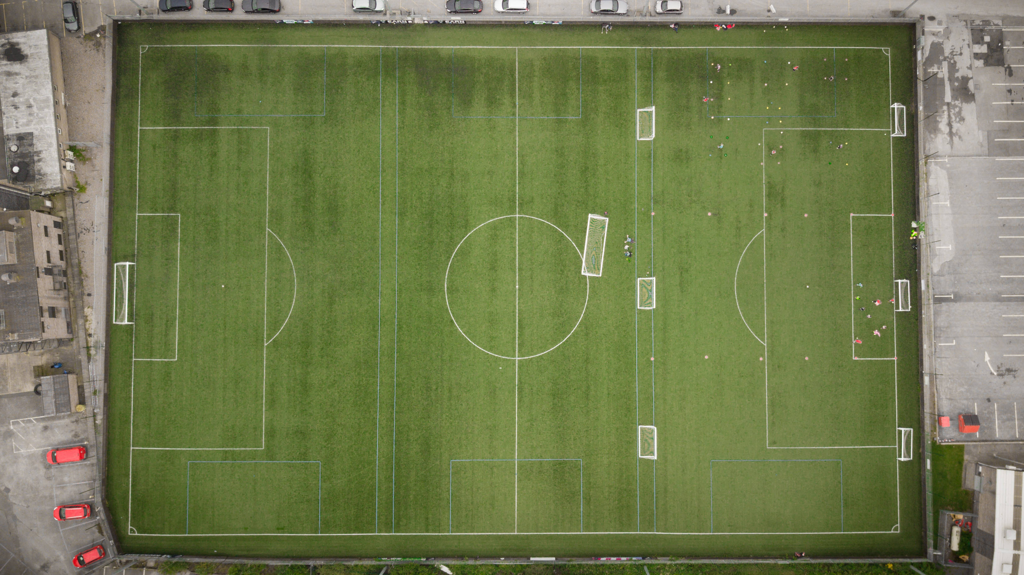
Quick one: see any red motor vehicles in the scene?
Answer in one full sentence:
Yes, I can see a red motor vehicle in this picture.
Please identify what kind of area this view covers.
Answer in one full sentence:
This image shows a sports ground.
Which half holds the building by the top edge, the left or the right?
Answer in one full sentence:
You can find the building by the top edge on the left side of the picture.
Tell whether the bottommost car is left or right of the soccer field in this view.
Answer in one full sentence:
To the left of the soccer field is where the bottommost car appears.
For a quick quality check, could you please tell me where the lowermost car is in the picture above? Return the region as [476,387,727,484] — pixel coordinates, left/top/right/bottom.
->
[72,544,106,569]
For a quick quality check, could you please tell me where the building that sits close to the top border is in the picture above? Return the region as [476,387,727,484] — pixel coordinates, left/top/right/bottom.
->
[0,27,74,192]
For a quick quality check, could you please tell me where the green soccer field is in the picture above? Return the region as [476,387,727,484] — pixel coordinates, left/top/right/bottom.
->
[106,23,923,557]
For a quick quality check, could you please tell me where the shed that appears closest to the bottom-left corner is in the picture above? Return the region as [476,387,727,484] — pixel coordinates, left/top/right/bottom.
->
[41,373,79,416]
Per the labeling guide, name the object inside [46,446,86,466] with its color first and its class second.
red vehicle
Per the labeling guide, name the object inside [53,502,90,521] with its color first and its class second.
red car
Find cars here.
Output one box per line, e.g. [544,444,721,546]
[157,0,192,13]
[351,0,384,13]
[202,0,233,13]
[241,0,280,13]
[63,0,82,34]
[494,0,530,13]
[591,0,628,14]
[72,544,106,569]
[445,0,482,13]
[655,0,685,14]
[53,502,90,521]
